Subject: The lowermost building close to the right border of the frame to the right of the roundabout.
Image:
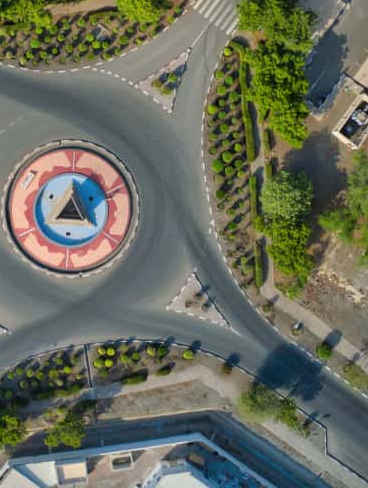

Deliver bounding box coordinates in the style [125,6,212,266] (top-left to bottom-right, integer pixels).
[326,94,368,149]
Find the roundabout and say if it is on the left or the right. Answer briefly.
left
